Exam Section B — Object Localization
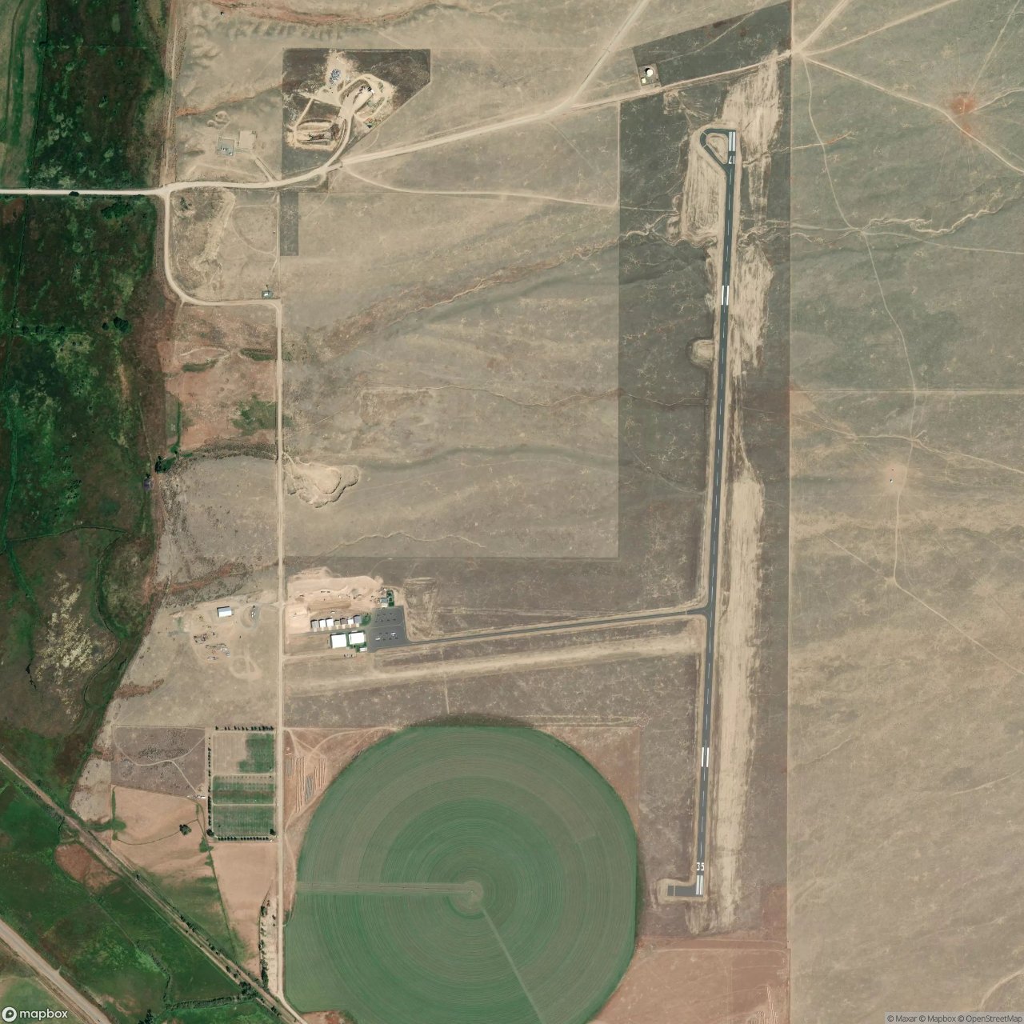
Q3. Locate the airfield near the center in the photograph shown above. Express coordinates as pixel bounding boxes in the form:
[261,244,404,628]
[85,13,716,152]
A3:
[367,129,736,897]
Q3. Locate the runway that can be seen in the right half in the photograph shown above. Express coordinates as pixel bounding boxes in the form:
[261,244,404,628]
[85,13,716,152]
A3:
[696,130,736,897]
